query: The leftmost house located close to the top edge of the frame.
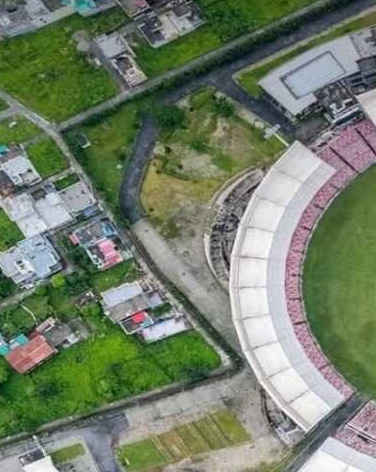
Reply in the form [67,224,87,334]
[0,4,38,40]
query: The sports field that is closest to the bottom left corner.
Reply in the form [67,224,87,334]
[118,437,171,472]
